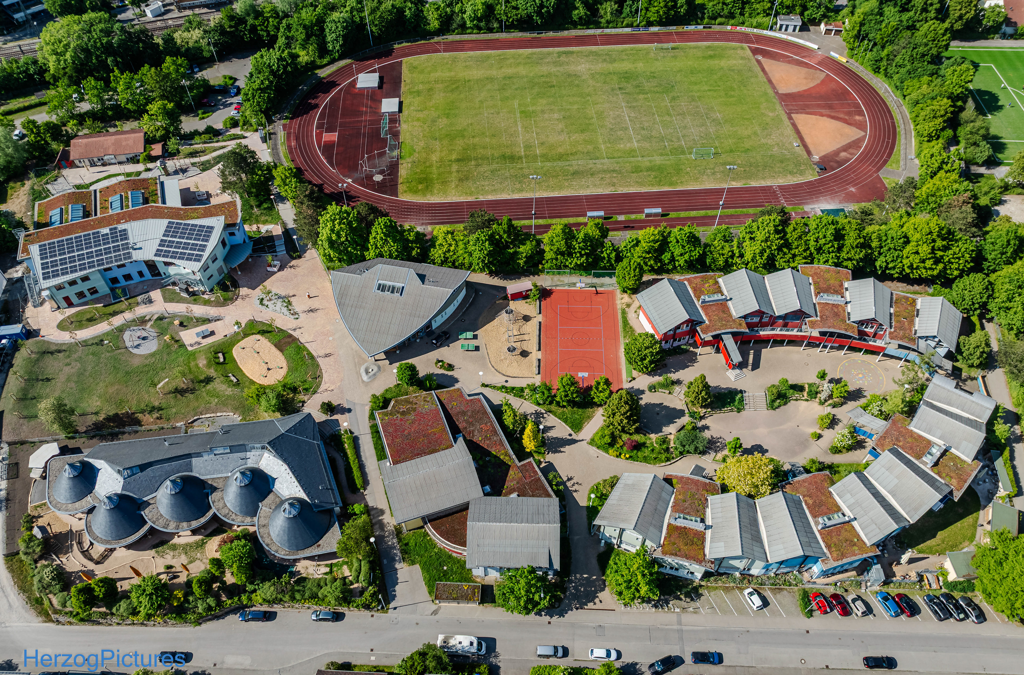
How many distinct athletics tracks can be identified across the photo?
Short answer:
1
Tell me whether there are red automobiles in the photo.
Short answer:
Yes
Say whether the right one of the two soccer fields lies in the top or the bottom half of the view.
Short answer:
top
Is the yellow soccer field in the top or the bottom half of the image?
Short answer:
top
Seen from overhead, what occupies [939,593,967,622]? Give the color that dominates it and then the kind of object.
black car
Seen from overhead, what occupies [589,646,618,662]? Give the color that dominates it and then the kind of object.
white car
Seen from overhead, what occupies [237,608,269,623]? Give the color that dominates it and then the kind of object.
blue car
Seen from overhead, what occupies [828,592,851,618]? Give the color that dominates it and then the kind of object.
red car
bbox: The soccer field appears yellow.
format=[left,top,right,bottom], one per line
[397,42,821,201]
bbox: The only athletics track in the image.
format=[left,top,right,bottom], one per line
[287,30,909,240]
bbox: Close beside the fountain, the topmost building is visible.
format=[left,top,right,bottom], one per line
[330,257,476,361]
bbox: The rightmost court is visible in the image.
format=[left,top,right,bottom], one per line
[540,288,623,395]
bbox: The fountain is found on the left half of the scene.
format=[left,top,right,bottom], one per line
[361,361,381,381]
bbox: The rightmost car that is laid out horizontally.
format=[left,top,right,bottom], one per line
[861,653,899,671]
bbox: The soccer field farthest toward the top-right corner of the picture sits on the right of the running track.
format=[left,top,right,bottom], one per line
[943,46,1024,166]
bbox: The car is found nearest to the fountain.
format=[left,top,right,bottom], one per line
[432,331,449,346]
